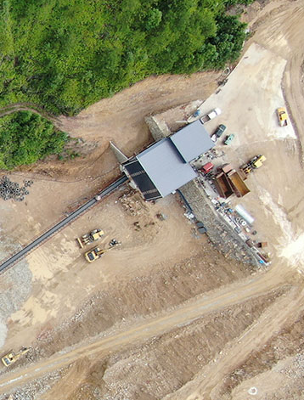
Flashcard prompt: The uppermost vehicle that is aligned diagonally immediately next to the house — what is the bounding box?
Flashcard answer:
[201,107,222,124]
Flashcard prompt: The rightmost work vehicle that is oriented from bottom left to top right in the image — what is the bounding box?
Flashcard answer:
[237,154,271,177]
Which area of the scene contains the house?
center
